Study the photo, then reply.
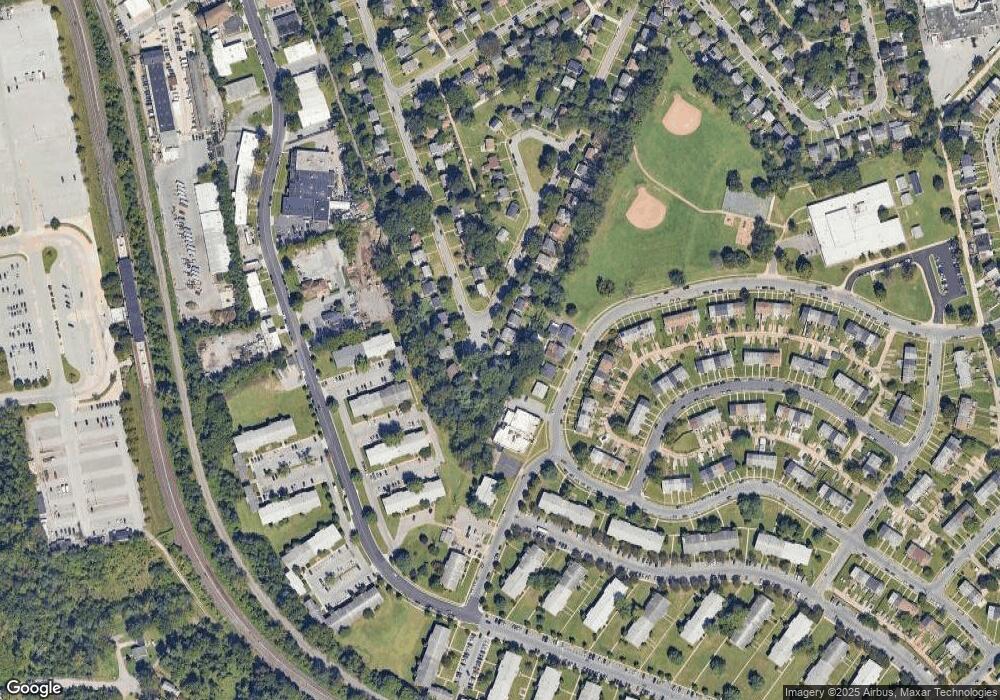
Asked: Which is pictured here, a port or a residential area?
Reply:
residential area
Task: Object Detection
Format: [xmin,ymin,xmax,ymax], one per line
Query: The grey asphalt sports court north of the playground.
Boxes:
[724,187,773,218]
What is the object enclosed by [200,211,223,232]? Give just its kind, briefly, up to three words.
building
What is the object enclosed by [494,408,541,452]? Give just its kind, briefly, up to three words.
building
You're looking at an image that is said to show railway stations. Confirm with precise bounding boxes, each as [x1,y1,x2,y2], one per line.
[109,235,150,387]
